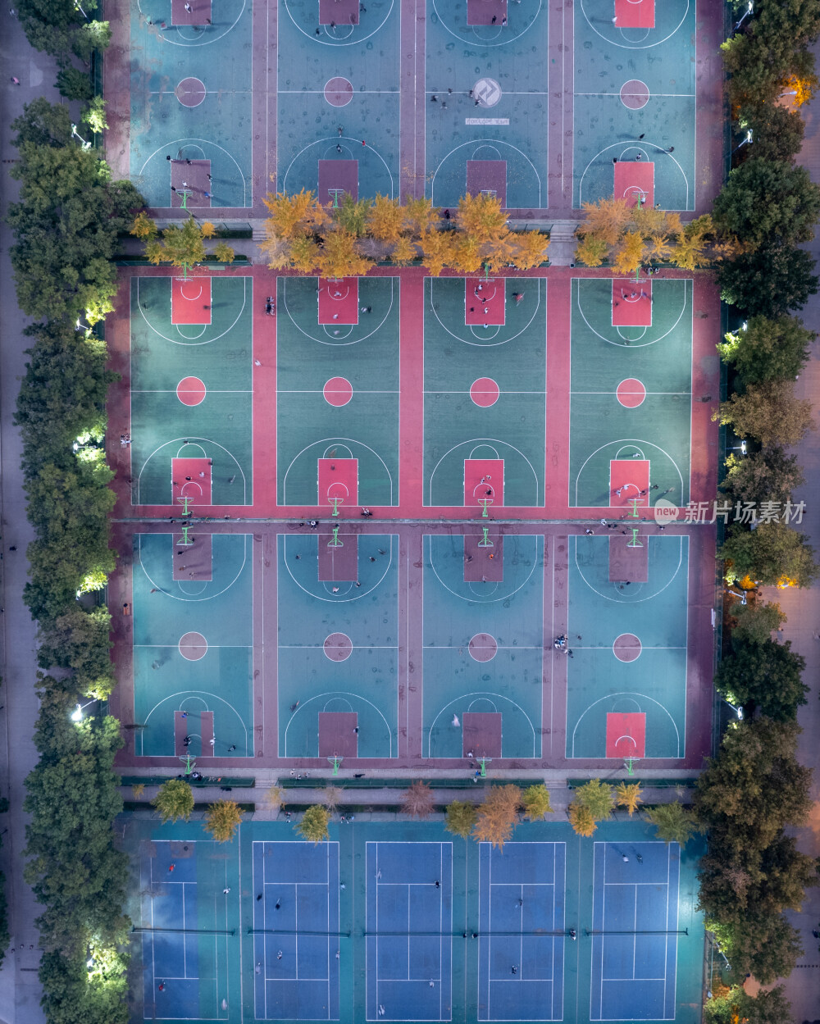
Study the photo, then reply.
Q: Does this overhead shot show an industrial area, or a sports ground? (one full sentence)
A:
What you see here is a sports ground.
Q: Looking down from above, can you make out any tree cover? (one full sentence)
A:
Yes, tree cover shows up in the scene.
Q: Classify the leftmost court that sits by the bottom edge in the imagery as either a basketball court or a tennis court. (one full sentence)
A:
What you see as the leftmost court that sits by the bottom edge is a tennis court.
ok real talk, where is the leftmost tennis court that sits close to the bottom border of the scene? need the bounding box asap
[140,839,229,1022]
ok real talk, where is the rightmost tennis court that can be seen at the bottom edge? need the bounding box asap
[589,840,679,1022]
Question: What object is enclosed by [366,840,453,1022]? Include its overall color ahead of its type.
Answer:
blue tennis court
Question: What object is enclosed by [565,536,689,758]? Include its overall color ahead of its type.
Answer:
blue basketball court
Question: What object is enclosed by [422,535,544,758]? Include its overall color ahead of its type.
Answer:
blue basketball court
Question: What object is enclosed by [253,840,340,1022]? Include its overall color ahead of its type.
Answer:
blue tennis court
